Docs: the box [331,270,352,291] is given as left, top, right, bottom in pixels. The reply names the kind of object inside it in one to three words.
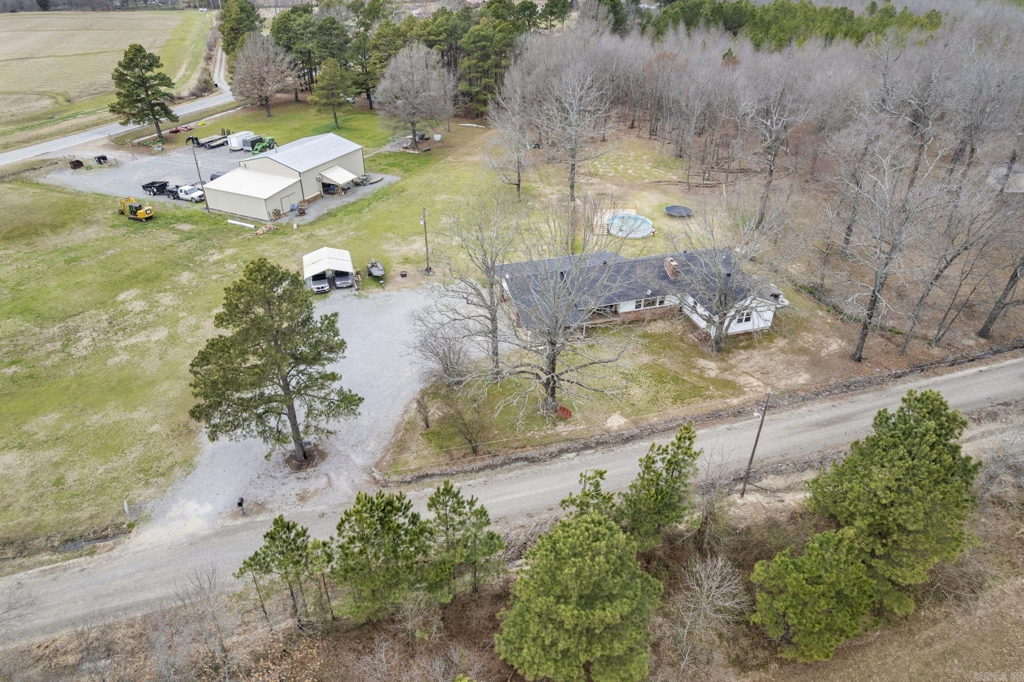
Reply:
vehicle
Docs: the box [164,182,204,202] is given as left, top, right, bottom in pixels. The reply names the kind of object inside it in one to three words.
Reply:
vehicle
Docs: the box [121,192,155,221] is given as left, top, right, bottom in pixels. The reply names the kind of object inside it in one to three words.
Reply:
work vehicle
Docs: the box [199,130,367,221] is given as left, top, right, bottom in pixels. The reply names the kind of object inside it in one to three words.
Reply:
building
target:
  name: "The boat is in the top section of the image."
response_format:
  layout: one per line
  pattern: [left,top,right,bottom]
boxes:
[368,254,385,275]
